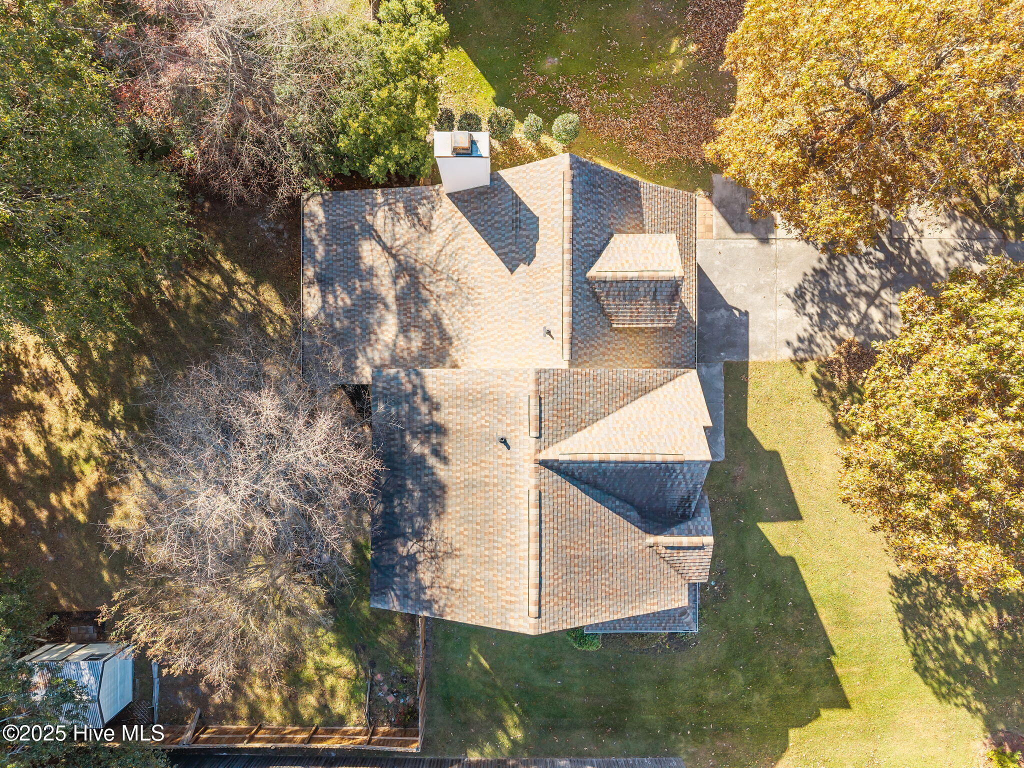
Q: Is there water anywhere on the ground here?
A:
No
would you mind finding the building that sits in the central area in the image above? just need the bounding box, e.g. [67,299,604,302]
[301,130,714,635]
